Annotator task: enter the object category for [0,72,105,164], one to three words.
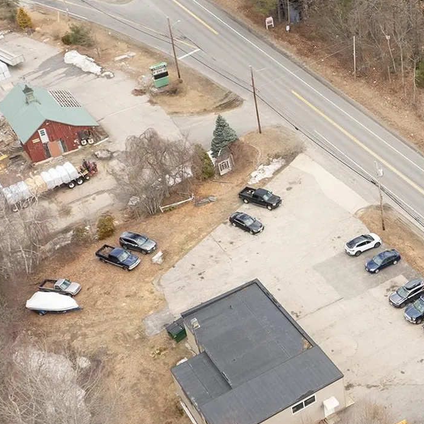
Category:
barn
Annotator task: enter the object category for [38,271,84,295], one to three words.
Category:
truck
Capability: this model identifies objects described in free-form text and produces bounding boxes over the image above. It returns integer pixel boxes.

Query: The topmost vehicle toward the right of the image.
[237,185,283,210]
